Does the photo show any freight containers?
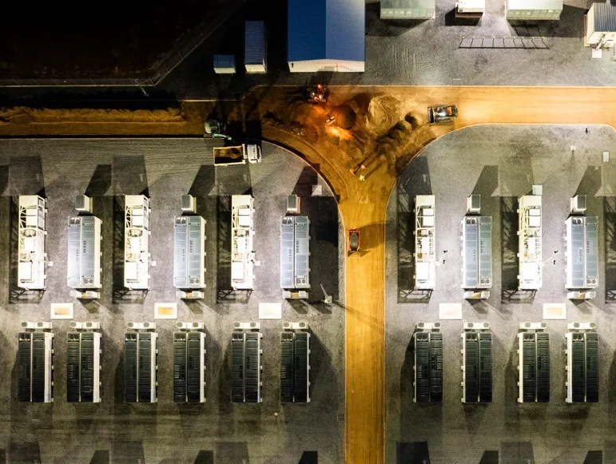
Yes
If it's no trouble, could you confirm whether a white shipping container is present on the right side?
Yes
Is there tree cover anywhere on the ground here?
No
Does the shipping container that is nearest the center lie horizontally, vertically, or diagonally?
vertically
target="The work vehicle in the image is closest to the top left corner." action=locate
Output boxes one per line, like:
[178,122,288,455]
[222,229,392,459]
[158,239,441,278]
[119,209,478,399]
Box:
[201,116,241,141]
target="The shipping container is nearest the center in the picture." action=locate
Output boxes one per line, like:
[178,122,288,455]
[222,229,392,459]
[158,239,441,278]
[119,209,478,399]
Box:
[277,218,308,289]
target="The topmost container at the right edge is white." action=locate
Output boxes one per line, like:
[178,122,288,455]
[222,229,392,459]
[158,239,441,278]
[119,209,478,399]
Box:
[562,218,596,289]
